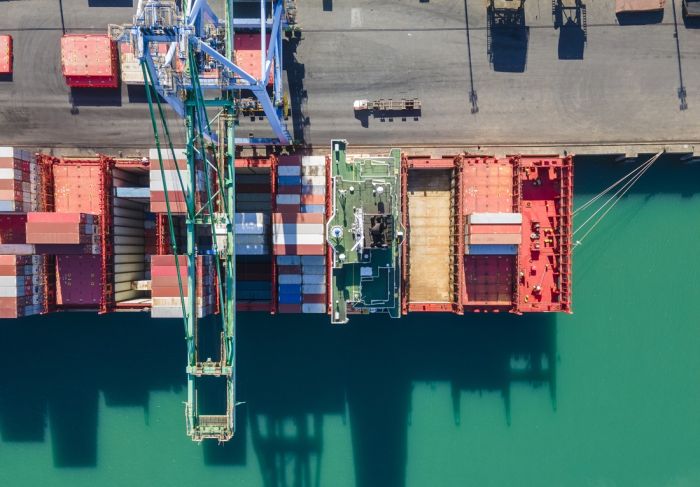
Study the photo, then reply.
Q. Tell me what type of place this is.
port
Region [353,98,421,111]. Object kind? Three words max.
vehicle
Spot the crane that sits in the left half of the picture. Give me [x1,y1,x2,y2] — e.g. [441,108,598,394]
[107,0,308,443]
